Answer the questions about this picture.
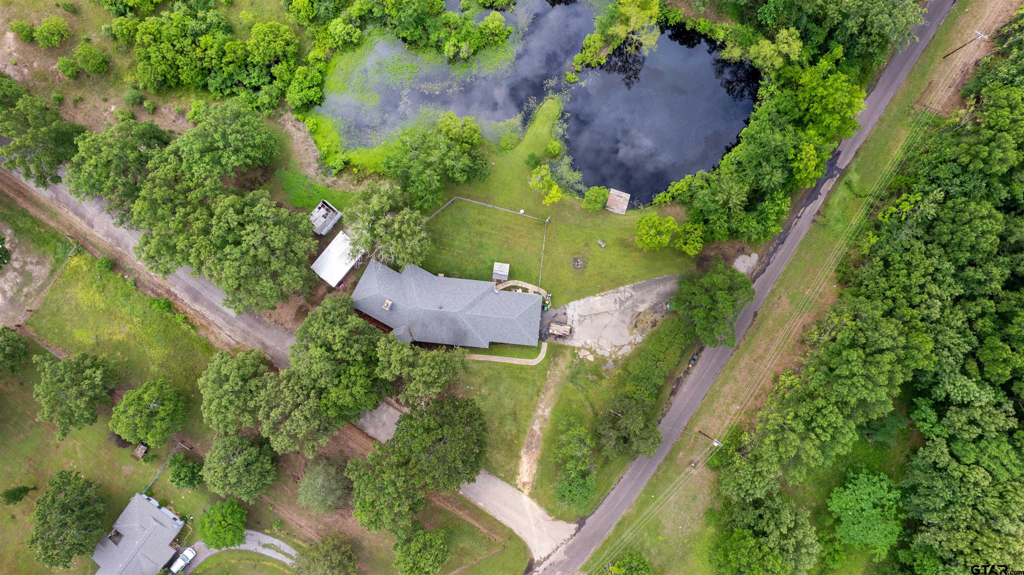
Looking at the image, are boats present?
No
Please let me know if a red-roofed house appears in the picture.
No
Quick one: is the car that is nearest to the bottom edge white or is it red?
white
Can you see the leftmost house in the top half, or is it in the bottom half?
bottom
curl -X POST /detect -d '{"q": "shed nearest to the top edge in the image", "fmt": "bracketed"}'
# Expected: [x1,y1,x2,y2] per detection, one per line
[304,200,344,235]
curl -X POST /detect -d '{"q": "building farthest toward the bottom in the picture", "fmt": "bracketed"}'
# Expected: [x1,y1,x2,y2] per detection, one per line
[92,489,189,575]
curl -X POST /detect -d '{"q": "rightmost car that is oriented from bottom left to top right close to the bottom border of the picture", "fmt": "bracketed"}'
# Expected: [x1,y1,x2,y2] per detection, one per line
[170,548,193,575]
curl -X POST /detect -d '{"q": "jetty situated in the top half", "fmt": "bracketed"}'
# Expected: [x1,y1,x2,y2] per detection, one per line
[604,188,630,216]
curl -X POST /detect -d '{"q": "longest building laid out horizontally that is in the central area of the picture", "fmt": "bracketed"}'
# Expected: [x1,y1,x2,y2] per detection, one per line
[351,260,543,349]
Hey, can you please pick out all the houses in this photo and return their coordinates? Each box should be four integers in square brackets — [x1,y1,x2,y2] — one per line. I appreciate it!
[351,260,543,349]
[92,489,189,575]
